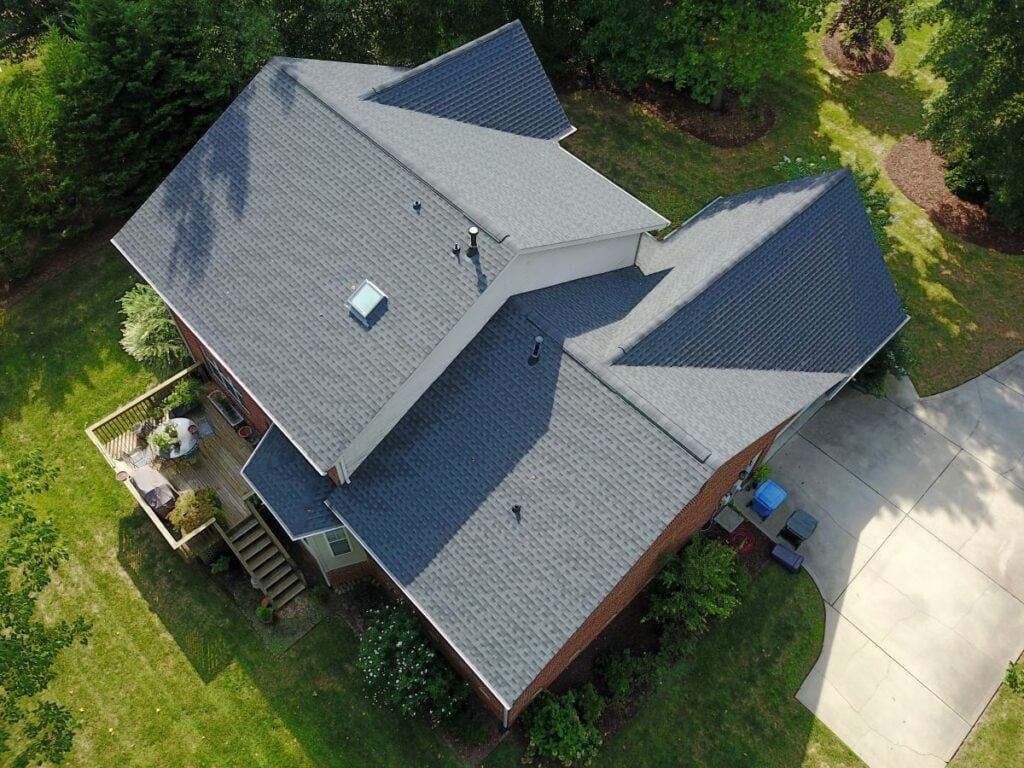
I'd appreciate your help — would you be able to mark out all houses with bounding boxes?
[111,20,914,730]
